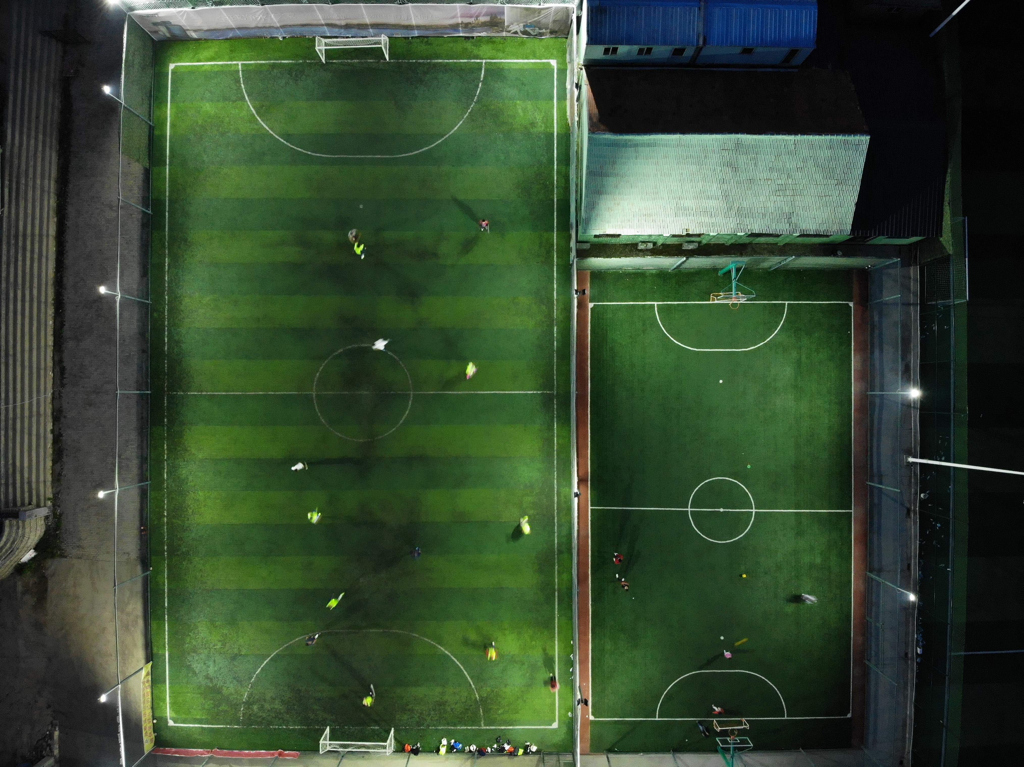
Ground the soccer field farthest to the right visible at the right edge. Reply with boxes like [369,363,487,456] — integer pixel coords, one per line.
[931,0,1024,752]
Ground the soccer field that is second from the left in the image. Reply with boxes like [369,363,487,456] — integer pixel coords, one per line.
[578,270,869,756]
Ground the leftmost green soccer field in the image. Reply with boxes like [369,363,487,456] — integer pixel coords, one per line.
[152,36,572,756]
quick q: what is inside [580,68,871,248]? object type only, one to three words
building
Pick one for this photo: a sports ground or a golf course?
sports ground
